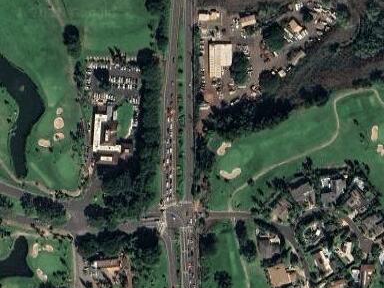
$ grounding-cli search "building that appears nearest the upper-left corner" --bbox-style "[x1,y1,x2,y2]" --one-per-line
[93,105,118,151]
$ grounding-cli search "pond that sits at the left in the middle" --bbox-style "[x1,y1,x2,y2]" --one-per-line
[0,55,44,179]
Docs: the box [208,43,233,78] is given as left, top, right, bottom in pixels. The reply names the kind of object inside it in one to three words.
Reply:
building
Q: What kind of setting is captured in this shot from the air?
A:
golf course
